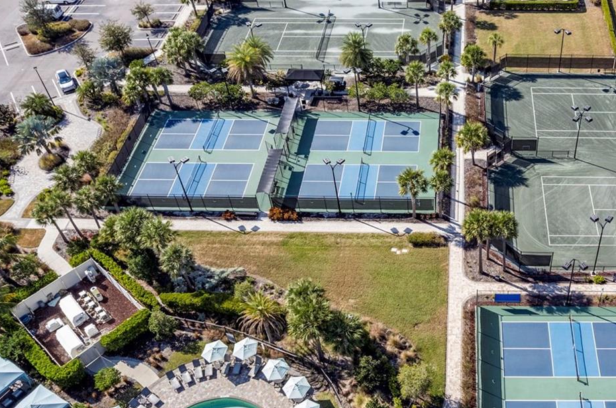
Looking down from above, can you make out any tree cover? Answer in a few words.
Yes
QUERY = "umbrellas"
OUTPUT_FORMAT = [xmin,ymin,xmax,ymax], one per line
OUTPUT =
[231,337,261,366]
[261,357,290,386]
[201,340,230,367]
[281,375,313,404]
[293,399,322,408]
